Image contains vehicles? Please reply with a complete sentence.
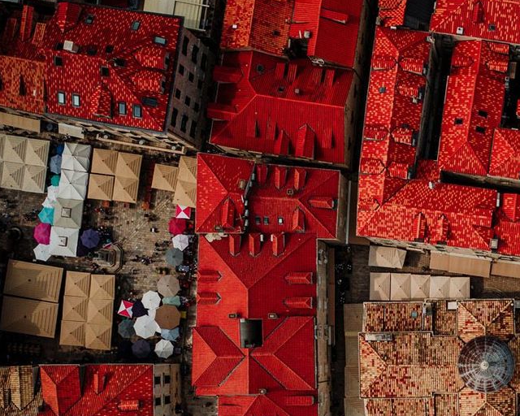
No, there isn't any vehicle down there.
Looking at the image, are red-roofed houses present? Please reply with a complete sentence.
Yes, looking at the shot, I can spot a red-roofed house.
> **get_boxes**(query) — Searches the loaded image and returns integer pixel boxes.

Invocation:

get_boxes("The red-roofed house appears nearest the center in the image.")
[194,151,352,245]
